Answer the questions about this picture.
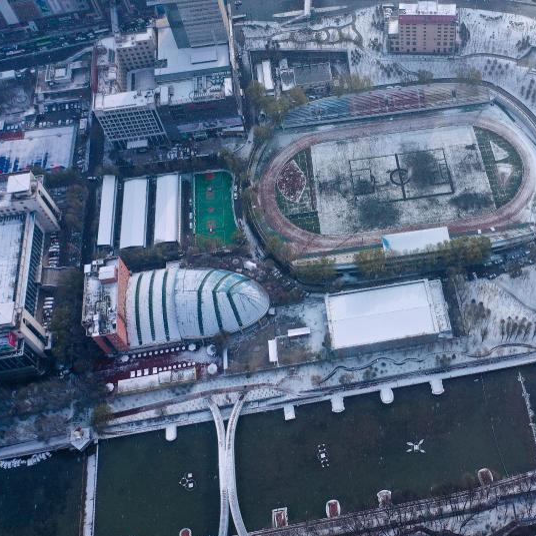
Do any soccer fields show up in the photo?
Yes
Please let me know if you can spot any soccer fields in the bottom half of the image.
No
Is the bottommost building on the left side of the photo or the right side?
left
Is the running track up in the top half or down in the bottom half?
top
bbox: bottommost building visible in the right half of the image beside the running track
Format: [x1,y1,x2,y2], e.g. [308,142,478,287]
[325,279,452,358]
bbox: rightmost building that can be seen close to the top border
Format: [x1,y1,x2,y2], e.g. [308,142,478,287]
[398,0,458,52]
